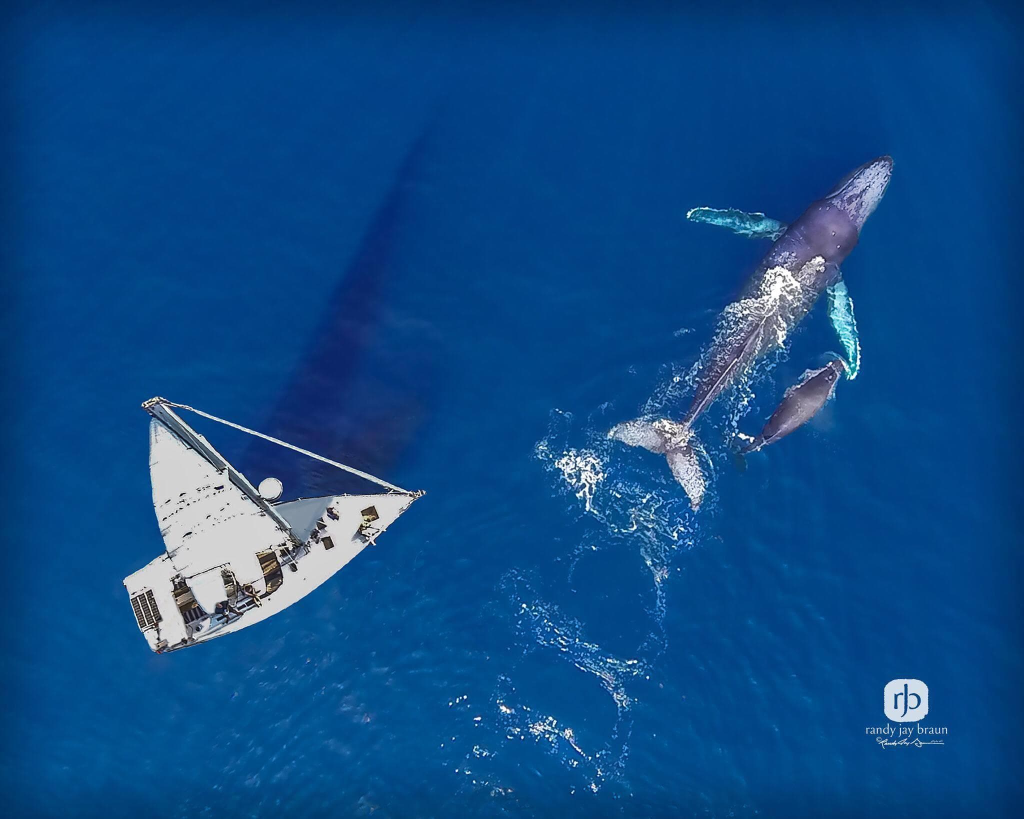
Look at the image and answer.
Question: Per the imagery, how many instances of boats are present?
1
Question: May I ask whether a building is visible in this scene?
No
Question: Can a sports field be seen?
No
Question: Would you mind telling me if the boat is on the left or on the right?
left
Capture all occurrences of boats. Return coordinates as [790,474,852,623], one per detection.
[126,395,432,657]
